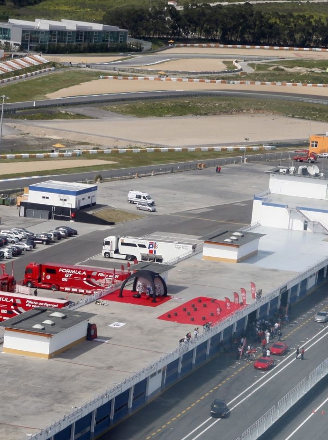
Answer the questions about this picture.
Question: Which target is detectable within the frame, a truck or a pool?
truck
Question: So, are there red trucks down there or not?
Yes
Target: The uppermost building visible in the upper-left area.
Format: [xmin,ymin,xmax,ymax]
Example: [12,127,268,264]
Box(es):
[0,16,134,51]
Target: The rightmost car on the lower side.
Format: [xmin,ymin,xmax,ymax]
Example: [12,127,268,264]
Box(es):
[314,310,328,323]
